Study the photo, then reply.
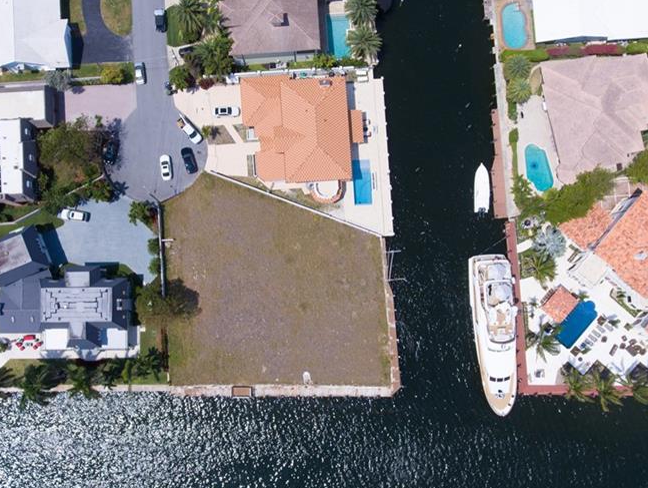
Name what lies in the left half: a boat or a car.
car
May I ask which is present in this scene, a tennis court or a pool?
pool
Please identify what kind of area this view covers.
residential area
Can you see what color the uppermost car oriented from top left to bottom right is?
white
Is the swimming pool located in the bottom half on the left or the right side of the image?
right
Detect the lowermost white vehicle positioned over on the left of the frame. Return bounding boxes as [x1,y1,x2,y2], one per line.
[61,208,89,220]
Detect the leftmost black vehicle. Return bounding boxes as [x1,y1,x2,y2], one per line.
[104,135,119,162]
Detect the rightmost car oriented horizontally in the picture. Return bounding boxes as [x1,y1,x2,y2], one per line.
[215,105,240,117]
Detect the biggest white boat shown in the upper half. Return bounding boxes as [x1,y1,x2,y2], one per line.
[474,163,489,216]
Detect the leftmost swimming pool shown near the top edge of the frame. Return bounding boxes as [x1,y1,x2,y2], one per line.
[326,13,352,60]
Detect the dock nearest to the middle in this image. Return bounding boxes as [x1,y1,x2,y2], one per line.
[371,78,393,235]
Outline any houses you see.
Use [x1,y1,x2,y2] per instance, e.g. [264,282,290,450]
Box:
[531,0,648,46]
[0,225,143,352]
[538,53,648,183]
[0,85,53,199]
[224,0,321,58]
[240,76,364,183]
[557,189,648,332]
[0,0,75,71]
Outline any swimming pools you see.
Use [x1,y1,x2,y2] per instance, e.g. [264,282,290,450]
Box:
[555,299,600,350]
[500,1,528,48]
[524,143,554,189]
[326,13,352,60]
[351,159,373,206]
